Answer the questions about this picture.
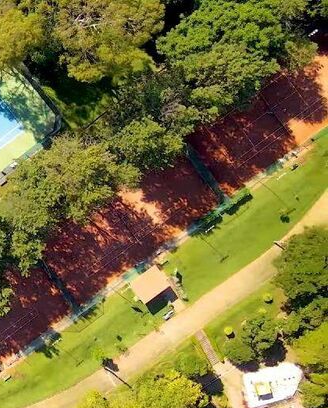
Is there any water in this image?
No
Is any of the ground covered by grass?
Yes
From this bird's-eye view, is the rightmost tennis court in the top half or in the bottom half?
top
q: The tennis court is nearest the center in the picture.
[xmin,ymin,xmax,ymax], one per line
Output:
[34,137,223,306]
